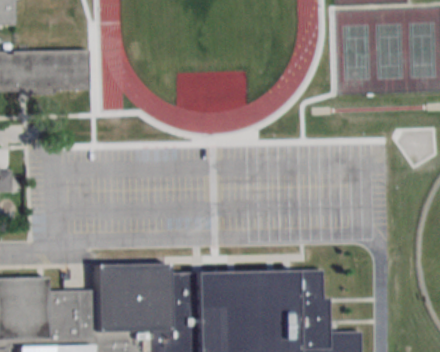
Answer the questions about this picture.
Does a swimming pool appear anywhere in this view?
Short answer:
No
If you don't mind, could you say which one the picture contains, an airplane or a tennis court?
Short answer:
tennis court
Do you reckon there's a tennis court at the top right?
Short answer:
Yes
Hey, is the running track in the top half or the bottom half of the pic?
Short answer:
top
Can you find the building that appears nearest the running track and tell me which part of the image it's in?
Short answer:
top left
